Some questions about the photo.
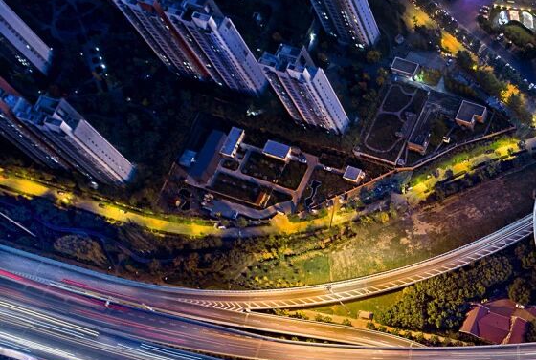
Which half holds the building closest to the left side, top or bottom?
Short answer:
top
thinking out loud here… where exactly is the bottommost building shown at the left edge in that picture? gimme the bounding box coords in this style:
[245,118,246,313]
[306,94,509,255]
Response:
[0,89,136,184]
